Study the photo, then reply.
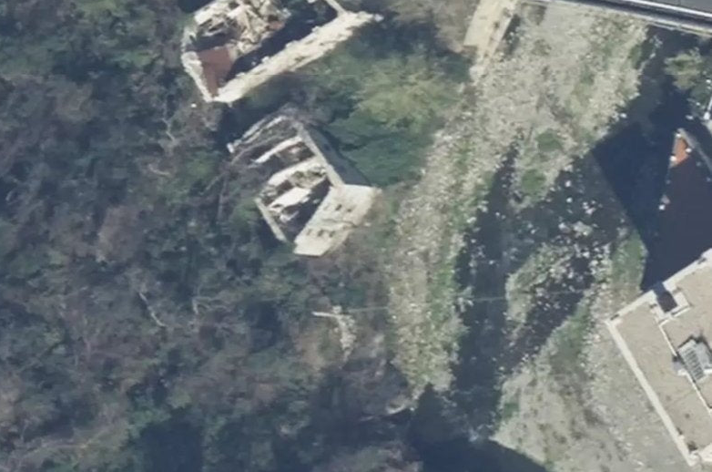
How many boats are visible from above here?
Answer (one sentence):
There are no boats in this view.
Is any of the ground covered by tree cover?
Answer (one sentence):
Yes, tree cover shows up in the scene.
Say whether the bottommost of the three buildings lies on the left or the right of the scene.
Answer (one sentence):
It is on the right.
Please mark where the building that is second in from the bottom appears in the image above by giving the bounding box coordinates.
[233,114,380,255]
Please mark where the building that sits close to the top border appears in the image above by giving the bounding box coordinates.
[182,0,383,104]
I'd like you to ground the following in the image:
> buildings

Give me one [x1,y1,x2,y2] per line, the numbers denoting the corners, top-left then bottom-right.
[608,249,712,468]
[233,114,380,255]
[182,0,383,104]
